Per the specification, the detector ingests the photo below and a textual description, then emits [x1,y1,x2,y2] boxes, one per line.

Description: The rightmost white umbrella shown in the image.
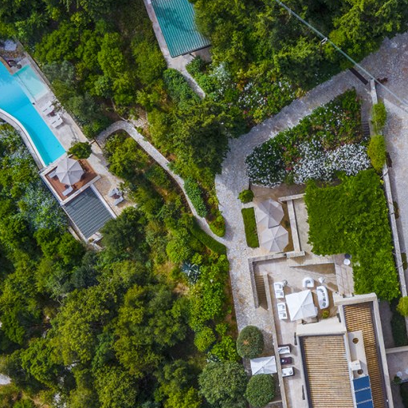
[283,287,320,323]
